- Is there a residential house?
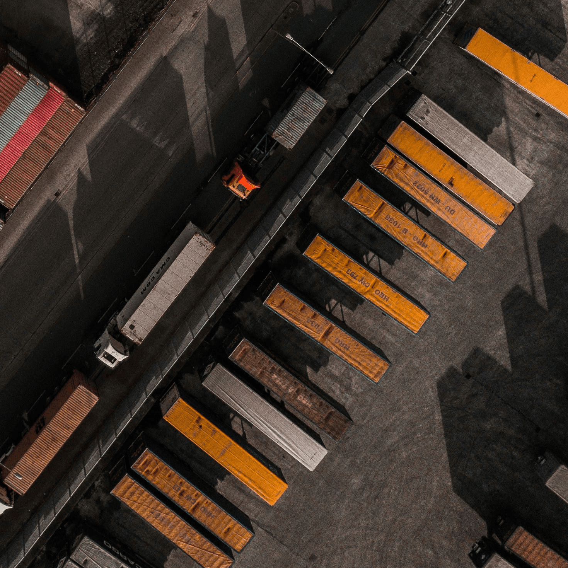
No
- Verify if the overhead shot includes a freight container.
Yes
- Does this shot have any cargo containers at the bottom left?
Yes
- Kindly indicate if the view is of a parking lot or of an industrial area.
parking lot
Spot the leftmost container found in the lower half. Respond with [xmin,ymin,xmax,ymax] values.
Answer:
[2,368,97,492]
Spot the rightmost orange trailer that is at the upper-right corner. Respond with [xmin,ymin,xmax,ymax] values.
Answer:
[451,23,568,125]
